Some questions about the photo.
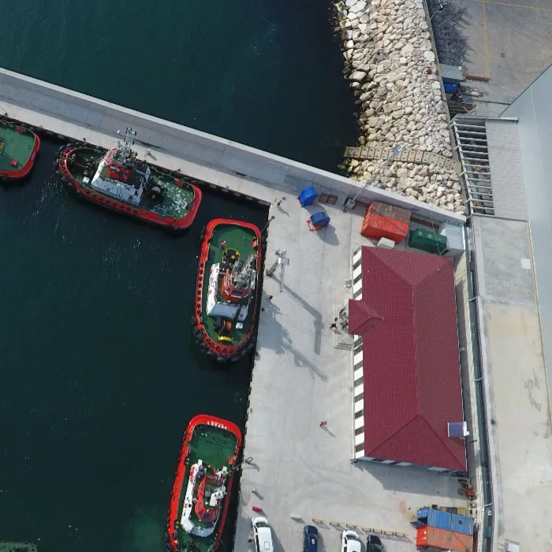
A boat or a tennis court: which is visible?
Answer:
boat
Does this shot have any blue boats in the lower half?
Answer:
No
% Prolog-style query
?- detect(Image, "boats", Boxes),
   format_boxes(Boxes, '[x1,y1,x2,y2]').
[0,125,41,182]
[54,135,200,232]
[0,541,37,552]
[167,415,240,552]
[194,222,264,363]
